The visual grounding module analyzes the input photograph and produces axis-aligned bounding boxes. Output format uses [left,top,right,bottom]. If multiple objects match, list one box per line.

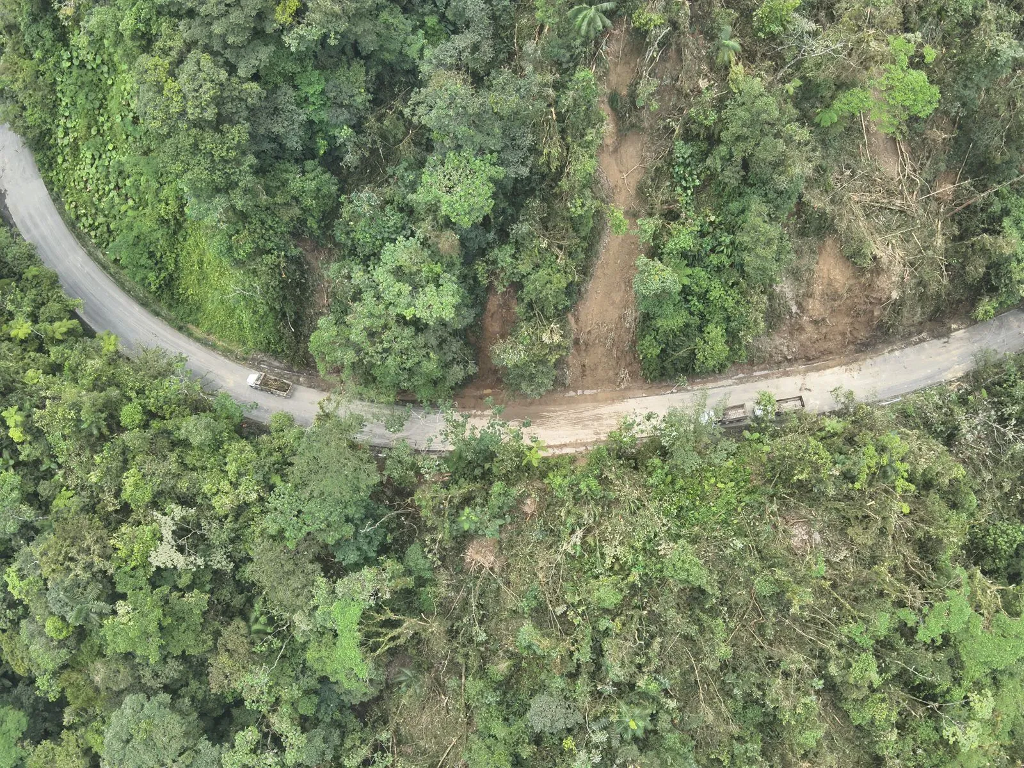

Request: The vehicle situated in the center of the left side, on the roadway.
[243,368,293,397]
